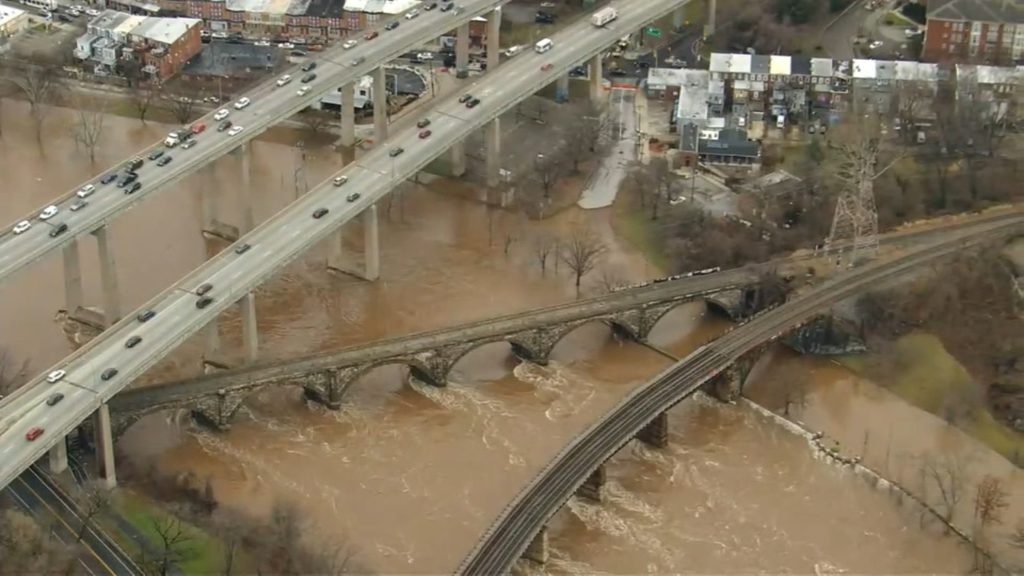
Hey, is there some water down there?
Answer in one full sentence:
Yes, there's water in this view.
